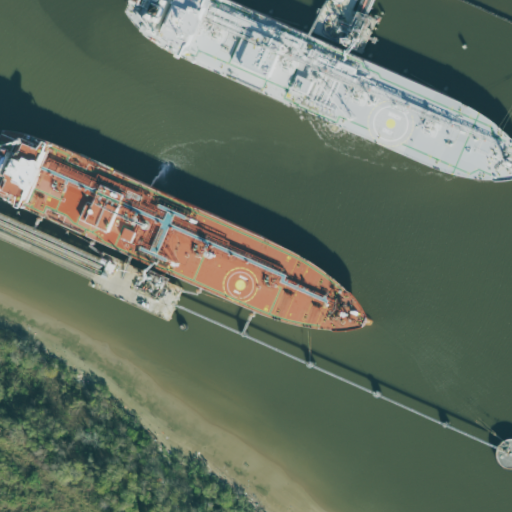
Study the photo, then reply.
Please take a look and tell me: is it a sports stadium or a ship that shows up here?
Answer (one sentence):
Looking from above, you can make out a ship.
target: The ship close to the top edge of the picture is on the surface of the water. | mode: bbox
[120,0,512,182]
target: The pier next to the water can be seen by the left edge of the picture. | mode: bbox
[0,213,183,320]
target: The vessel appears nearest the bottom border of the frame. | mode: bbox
[0,130,374,331]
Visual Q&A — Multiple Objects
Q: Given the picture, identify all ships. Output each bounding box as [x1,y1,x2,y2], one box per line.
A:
[0,130,374,331]
[120,0,512,182]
